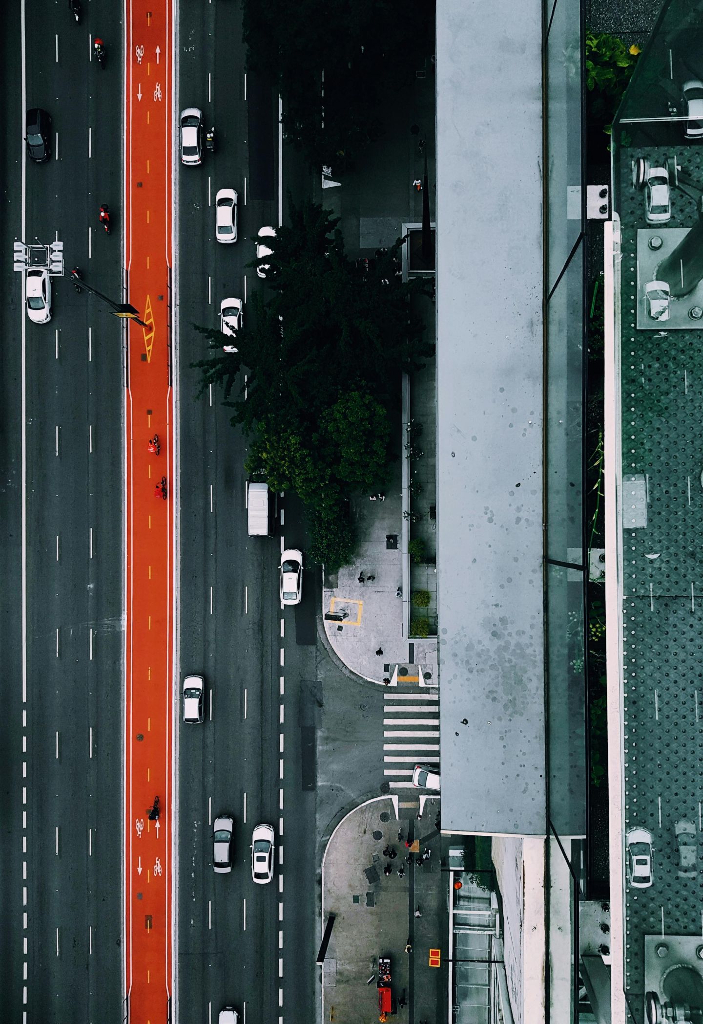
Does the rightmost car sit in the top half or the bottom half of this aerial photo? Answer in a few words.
bottom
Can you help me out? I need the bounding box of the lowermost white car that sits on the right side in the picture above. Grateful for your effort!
[412,763,441,793]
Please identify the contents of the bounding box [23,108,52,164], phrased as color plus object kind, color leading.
black car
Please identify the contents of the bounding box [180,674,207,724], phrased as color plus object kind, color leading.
white car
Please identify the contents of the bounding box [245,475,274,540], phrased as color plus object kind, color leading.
white van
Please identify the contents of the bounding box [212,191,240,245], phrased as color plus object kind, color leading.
white car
